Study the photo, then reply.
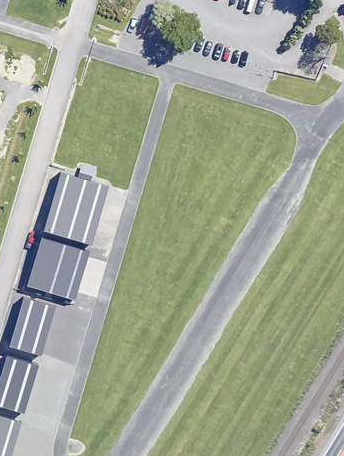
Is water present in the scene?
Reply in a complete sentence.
No, no water is visible.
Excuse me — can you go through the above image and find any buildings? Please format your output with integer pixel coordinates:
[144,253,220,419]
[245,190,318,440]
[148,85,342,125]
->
[27,238,90,300]
[8,297,56,356]
[0,414,22,456]
[44,172,109,246]
[0,355,39,414]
